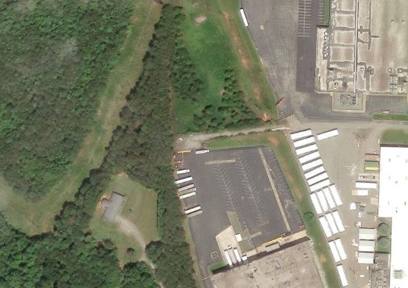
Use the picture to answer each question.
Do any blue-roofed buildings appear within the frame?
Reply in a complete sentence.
No, no blue-roofed building is visible in the view.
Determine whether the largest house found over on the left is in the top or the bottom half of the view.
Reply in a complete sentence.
The bottom half of the photo is where the largest house found over on the left is.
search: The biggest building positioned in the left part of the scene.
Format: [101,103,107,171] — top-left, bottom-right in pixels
[103,193,126,223]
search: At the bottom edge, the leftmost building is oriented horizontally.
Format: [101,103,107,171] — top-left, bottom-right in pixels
[212,241,327,288]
